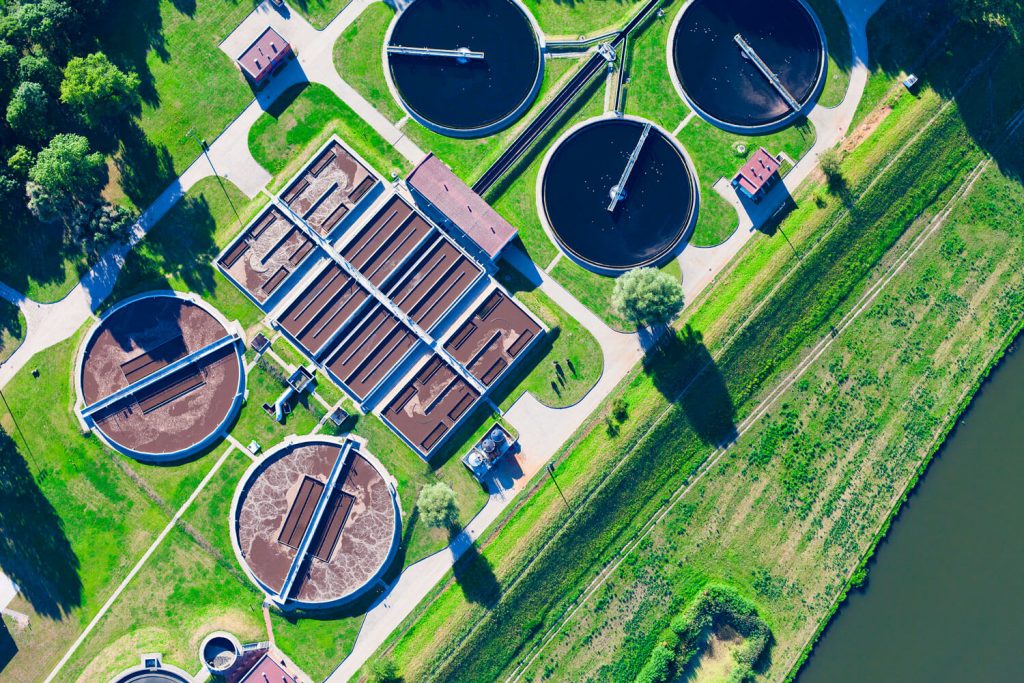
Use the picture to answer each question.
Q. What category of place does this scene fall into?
industrial area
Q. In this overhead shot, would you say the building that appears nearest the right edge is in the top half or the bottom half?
top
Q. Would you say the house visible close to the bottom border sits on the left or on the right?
left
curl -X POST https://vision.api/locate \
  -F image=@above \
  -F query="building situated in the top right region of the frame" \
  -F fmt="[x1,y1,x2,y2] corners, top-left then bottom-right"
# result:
[731,147,780,197]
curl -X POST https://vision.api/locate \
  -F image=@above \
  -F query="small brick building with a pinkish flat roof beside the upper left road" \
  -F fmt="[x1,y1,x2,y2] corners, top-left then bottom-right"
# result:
[238,27,295,84]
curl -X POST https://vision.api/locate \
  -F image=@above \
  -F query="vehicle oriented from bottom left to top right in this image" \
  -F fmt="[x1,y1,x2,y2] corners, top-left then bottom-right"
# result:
[902,72,919,87]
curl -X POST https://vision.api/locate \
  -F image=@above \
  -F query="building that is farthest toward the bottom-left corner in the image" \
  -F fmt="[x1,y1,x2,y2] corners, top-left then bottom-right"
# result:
[226,648,304,683]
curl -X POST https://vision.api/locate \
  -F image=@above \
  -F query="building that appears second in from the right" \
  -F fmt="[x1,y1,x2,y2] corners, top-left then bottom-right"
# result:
[405,151,518,261]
